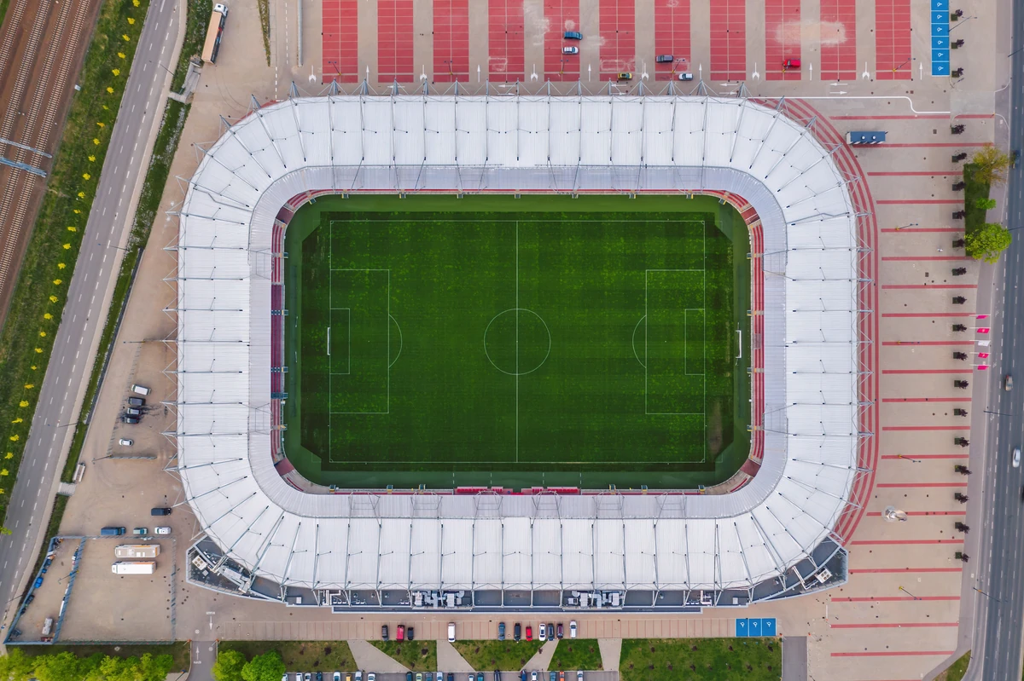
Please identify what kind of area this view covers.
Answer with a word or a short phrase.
sports ground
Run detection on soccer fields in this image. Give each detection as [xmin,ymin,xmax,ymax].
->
[285,195,751,489]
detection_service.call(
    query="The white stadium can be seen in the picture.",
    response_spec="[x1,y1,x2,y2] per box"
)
[161,77,874,608]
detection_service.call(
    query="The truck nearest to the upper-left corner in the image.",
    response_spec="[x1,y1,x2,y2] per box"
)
[200,4,226,61]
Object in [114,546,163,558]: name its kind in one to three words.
vehicle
